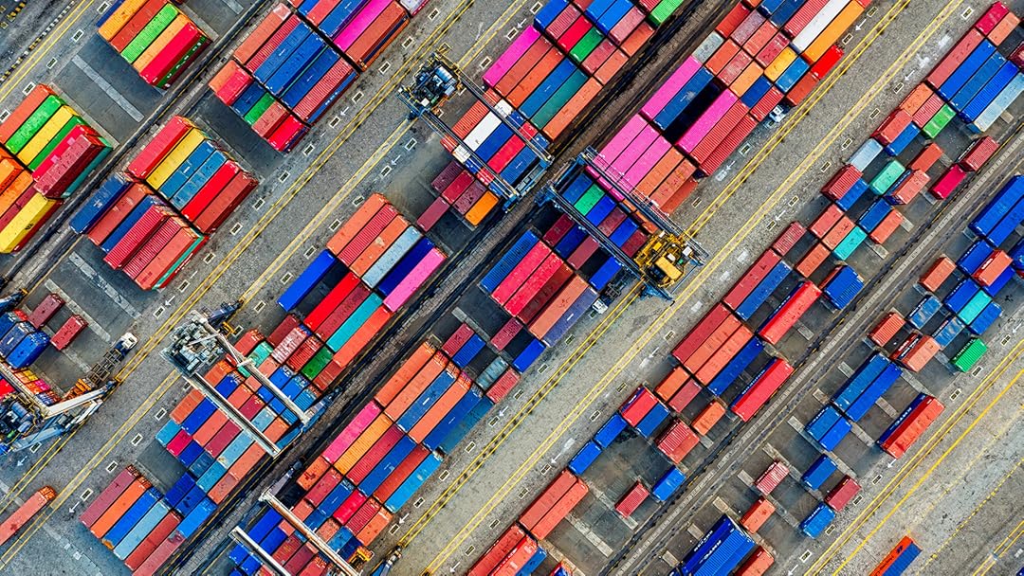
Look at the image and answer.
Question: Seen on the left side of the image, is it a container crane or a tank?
container crane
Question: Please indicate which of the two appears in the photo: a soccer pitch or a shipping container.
shipping container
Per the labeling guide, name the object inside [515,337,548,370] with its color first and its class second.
blue shipping container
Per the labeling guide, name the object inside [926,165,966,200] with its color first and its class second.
red shipping container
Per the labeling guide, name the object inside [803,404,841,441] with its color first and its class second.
blue shipping container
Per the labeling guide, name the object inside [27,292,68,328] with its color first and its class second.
red shipping container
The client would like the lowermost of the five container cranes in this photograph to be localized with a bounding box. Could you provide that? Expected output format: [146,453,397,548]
[222,450,406,576]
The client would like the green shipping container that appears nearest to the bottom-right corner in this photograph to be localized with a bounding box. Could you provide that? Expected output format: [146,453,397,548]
[950,337,990,374]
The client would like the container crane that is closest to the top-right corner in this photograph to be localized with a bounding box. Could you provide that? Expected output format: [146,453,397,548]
[535,132,713,300]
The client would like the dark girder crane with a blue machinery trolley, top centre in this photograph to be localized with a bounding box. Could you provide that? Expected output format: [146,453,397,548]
[392,39,566,213]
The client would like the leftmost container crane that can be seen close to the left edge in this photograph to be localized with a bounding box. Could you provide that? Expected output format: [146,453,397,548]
[0,355,118,460]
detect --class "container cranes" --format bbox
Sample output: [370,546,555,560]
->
[392,39,566,213]
[535,132,713,300]
[0,355,118,460]
[222,450,406,576]
[150,294,345,468]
